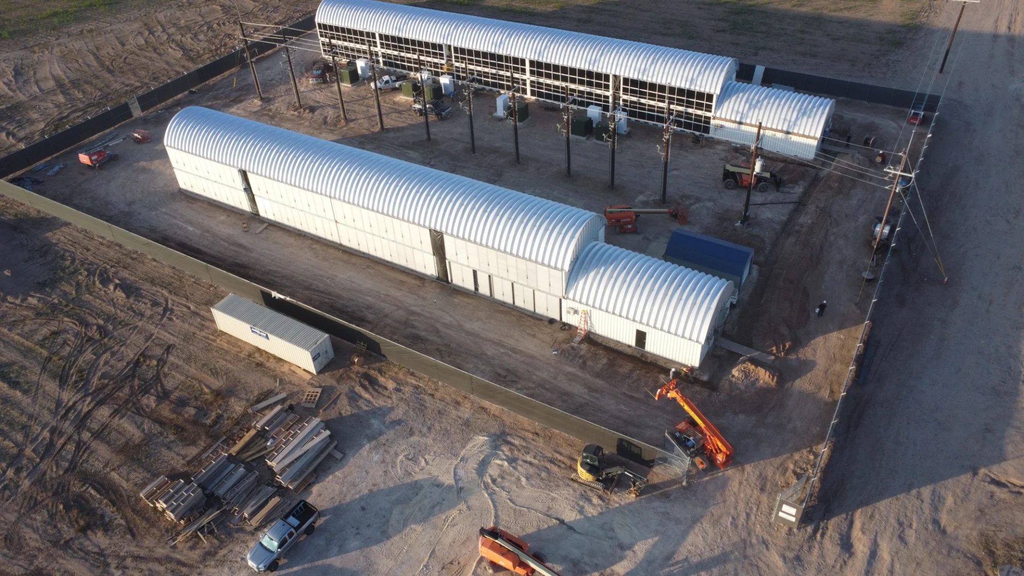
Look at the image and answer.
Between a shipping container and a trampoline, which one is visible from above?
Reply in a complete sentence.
It is a shipping container that can be seen here.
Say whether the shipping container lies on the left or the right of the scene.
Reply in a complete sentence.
You can find the shipping container on the left side of the picture.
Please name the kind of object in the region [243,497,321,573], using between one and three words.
truck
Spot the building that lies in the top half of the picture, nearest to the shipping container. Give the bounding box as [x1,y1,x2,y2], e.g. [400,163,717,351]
[161,104,610,325]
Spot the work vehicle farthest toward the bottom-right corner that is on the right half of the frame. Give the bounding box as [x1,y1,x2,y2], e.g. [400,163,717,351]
[655,375,738,472]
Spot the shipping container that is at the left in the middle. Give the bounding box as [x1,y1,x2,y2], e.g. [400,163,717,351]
[211,293,337,374]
